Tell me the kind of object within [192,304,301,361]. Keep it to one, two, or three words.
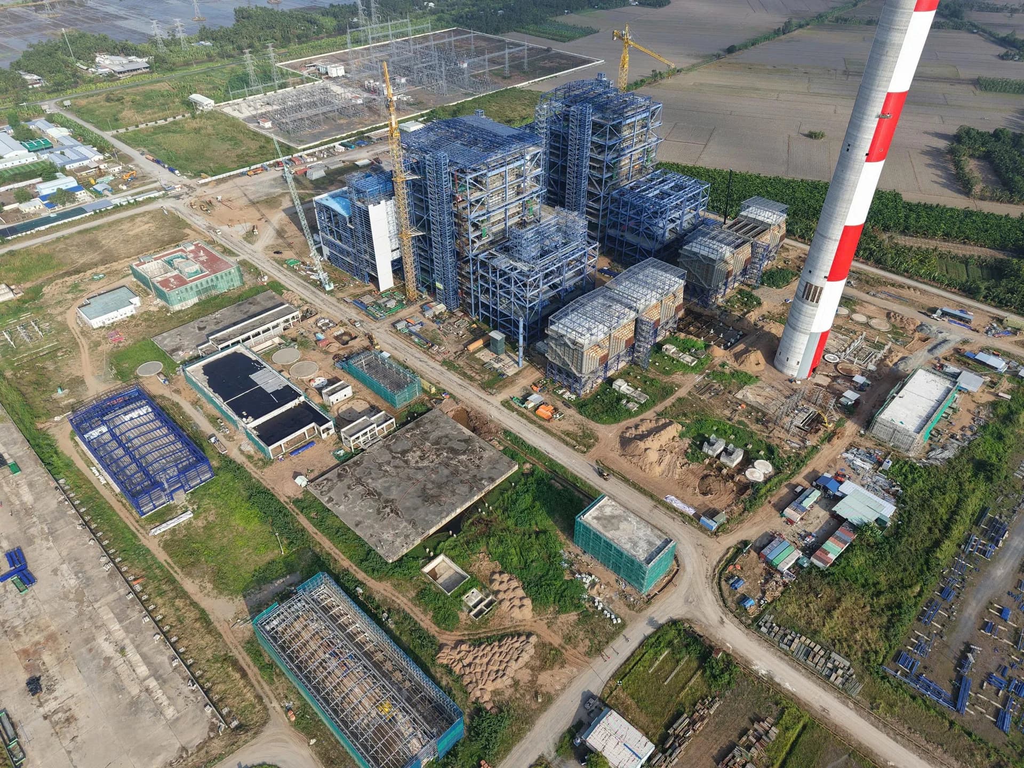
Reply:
shed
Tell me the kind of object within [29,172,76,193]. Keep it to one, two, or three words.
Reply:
shed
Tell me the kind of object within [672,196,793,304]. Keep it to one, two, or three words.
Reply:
building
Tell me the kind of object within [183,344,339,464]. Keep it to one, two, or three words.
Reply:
building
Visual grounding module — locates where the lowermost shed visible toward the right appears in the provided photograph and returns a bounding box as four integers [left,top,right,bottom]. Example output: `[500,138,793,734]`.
[579,700,660,768]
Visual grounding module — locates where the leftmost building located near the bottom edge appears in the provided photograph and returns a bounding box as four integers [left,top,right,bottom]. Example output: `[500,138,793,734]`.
[252,570,497,768]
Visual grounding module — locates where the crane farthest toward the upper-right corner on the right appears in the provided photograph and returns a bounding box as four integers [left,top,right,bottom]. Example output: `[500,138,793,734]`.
[607,27,676,90]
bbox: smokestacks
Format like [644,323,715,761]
[774,0,939,381]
